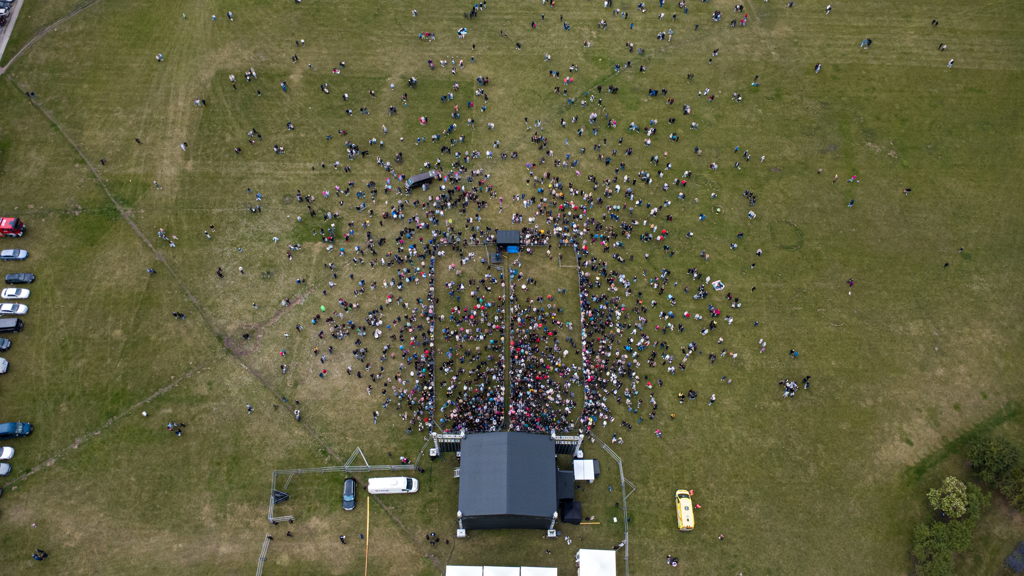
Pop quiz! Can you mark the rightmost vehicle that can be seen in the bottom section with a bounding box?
[675,489,693,530]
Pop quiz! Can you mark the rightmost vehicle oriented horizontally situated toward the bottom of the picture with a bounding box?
[368,476,419,494]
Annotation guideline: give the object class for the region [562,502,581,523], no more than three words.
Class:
gazebo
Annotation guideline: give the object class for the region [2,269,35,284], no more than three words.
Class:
car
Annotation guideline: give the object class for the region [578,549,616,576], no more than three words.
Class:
tent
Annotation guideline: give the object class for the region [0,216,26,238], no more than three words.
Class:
truck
